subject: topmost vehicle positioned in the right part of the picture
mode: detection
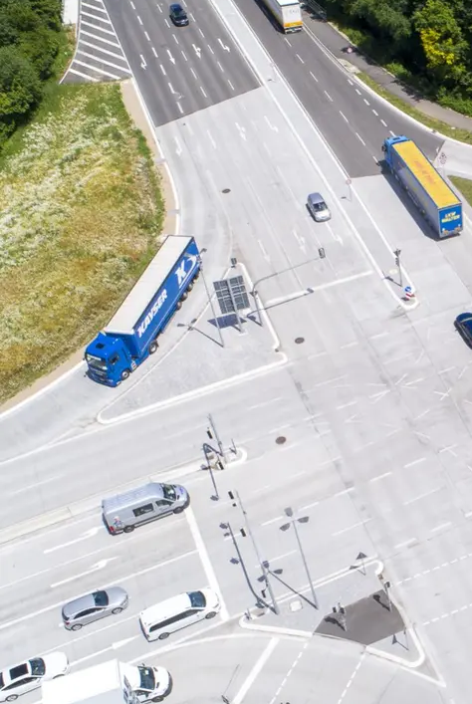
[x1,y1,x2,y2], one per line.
[264,0,304,32]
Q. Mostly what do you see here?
paved ground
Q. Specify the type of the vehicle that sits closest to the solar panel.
truck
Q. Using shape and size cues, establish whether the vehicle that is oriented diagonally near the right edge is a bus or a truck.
truck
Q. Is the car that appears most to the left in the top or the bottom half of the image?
bottom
